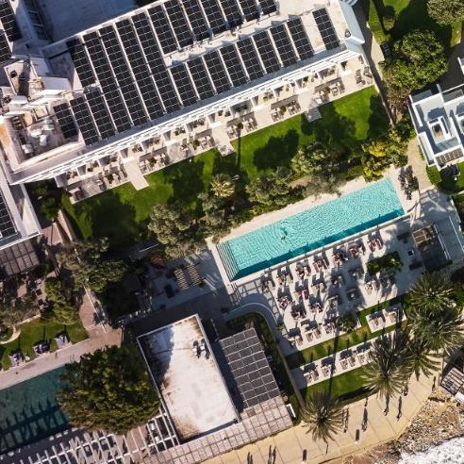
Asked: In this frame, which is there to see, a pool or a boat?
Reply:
pool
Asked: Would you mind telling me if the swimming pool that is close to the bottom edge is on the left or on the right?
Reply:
left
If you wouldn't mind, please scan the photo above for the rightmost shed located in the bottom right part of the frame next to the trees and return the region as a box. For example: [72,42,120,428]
[441,363,464,395]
